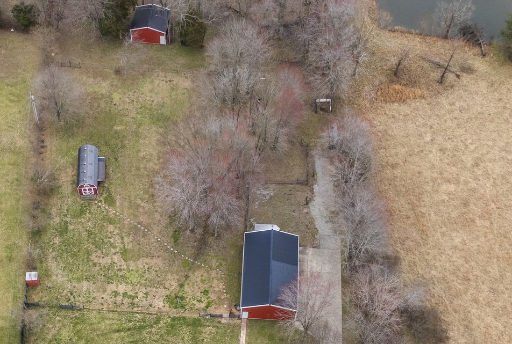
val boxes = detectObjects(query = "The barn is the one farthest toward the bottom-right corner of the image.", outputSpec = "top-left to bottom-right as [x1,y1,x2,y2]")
[240,226,302,320]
